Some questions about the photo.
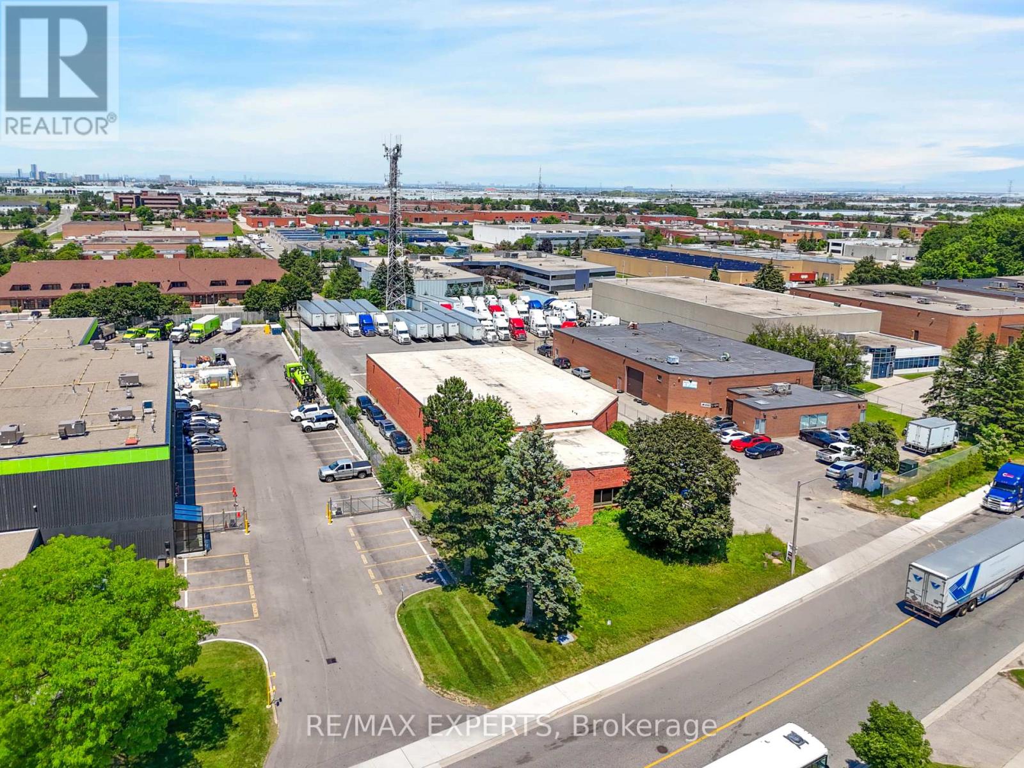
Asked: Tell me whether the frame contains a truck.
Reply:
Yes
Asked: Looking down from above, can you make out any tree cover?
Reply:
Yes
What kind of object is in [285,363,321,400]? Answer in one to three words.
truck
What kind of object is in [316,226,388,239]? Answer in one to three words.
building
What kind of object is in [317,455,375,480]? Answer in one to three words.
truck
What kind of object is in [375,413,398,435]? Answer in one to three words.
car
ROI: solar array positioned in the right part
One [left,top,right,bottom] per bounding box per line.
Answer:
[600,248,755,268]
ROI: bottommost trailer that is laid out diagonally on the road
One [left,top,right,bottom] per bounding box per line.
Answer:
[906,515,1024,627]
